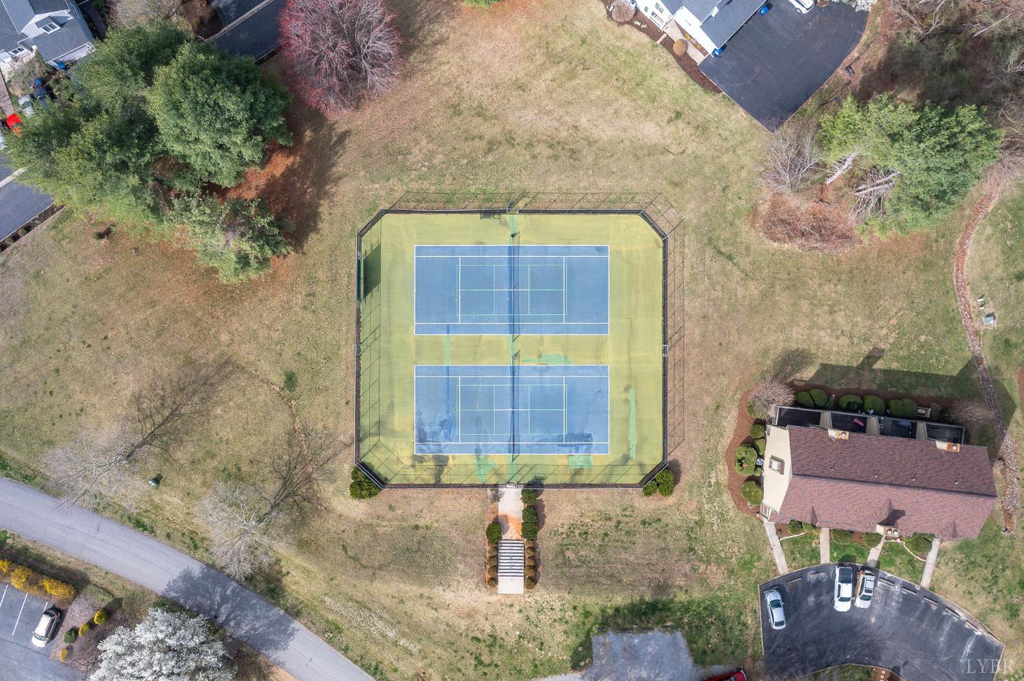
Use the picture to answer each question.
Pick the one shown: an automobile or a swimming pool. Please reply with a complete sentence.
I can see an automobile in this picture.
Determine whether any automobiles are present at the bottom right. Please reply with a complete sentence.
Yes, you'll find an automobile at the bottom right.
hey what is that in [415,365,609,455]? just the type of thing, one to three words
tennis court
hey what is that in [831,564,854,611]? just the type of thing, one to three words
truck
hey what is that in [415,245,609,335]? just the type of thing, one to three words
tennis court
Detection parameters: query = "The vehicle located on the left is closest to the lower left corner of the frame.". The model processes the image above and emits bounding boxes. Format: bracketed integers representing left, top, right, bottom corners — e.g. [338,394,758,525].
[34,607,62,645]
